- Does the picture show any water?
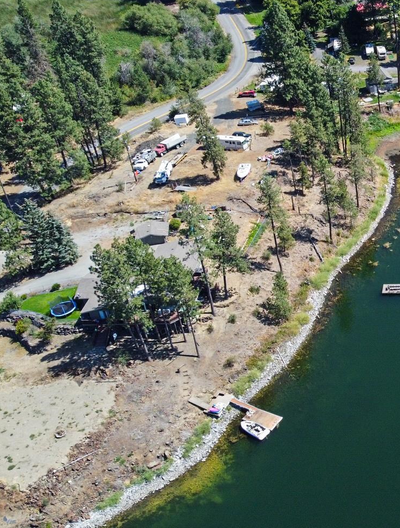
Yes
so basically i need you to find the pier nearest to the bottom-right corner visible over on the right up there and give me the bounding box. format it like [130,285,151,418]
[242,409,284,432]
